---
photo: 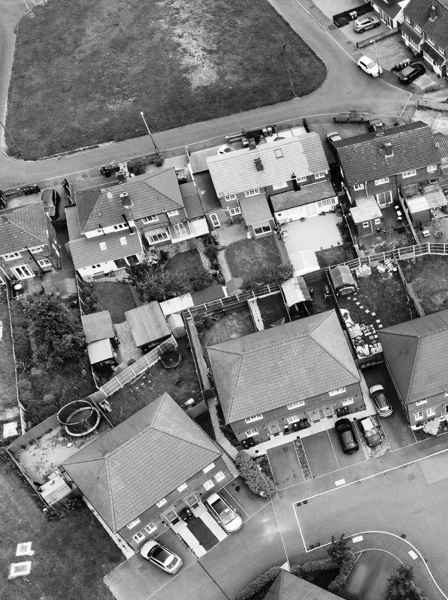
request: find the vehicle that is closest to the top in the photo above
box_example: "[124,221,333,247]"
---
[352,16,382,32]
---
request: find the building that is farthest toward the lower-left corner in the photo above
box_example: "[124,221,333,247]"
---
[40,475,75,507]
